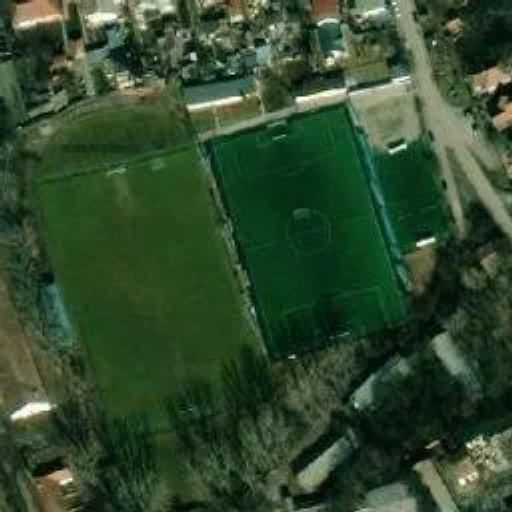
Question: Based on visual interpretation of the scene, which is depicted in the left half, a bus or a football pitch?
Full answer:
The one visible in the left half is a football pitch.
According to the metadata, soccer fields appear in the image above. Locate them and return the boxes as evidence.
[212,104,407,356]
[369,142,447,250]
[40,148,276,425]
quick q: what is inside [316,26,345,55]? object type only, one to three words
house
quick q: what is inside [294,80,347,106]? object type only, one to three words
building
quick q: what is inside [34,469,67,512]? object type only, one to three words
house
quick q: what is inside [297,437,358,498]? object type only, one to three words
building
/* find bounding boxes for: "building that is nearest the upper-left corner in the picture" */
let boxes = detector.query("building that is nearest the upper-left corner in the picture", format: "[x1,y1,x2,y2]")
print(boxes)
[10,0,63,29]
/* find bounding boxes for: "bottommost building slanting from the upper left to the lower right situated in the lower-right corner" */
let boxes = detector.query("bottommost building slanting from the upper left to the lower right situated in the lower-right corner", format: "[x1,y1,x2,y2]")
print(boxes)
[414,458,464,512]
